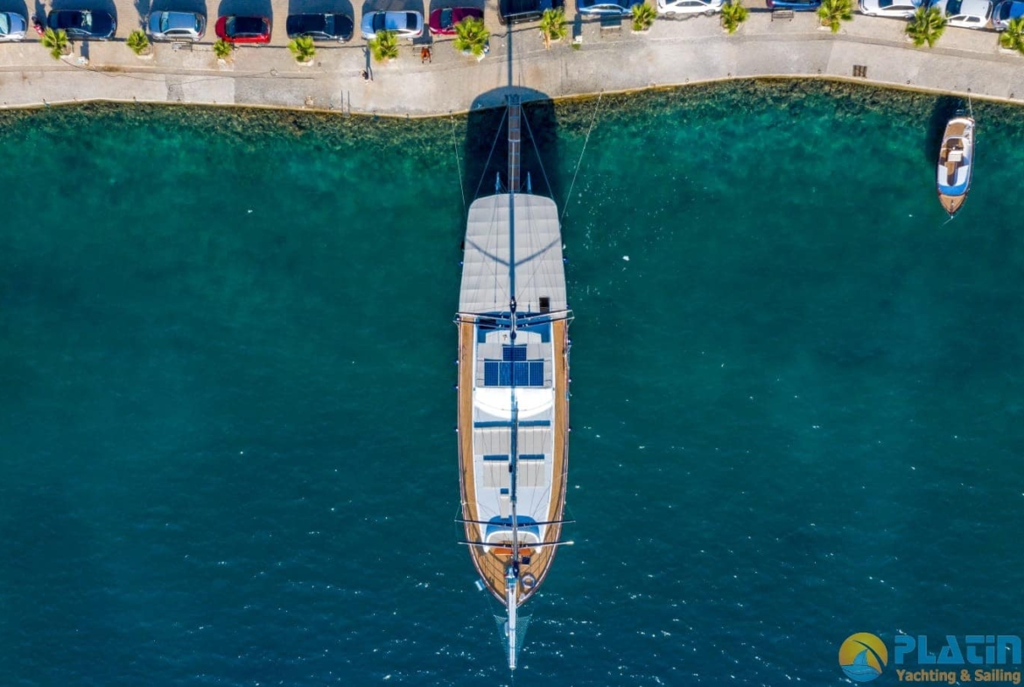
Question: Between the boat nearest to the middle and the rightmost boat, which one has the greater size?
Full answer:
The larger object is the boat nearest to the middle, with the rightmost boat being the smaller of the pair.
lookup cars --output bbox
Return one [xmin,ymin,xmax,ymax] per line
[499,0,566,26]
[148,7,208,42]
[0,12,28,42]
[930,0,997,27]
[43,6,119,41]
[215,10,272,45]
[858,0,921,18]
[764,0,821,11]
[285,8,355,43]
[429,1,485,36]
[575,0,645,16]
[989,0,1024,31]
[656,0,725,15]
[361,6,425,40]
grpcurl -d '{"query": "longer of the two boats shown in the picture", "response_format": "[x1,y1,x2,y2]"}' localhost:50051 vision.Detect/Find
[453,89,575,678]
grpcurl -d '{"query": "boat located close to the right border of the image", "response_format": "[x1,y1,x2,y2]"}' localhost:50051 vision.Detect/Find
[935,114,975,218]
